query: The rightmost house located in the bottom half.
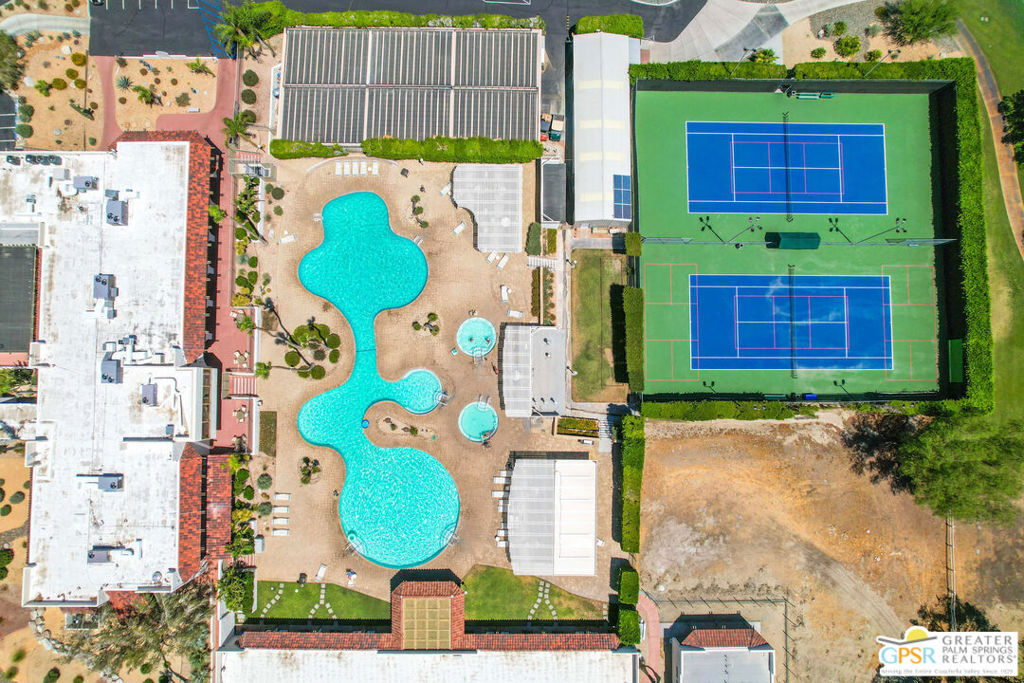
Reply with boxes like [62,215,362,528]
[666,627,775,683]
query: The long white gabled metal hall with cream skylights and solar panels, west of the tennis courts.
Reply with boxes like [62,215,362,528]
[572,32,641,232]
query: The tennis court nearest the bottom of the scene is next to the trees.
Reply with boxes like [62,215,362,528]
[640,240,946,406]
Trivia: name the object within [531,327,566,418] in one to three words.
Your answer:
building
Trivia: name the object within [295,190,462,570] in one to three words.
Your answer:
swimming pool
